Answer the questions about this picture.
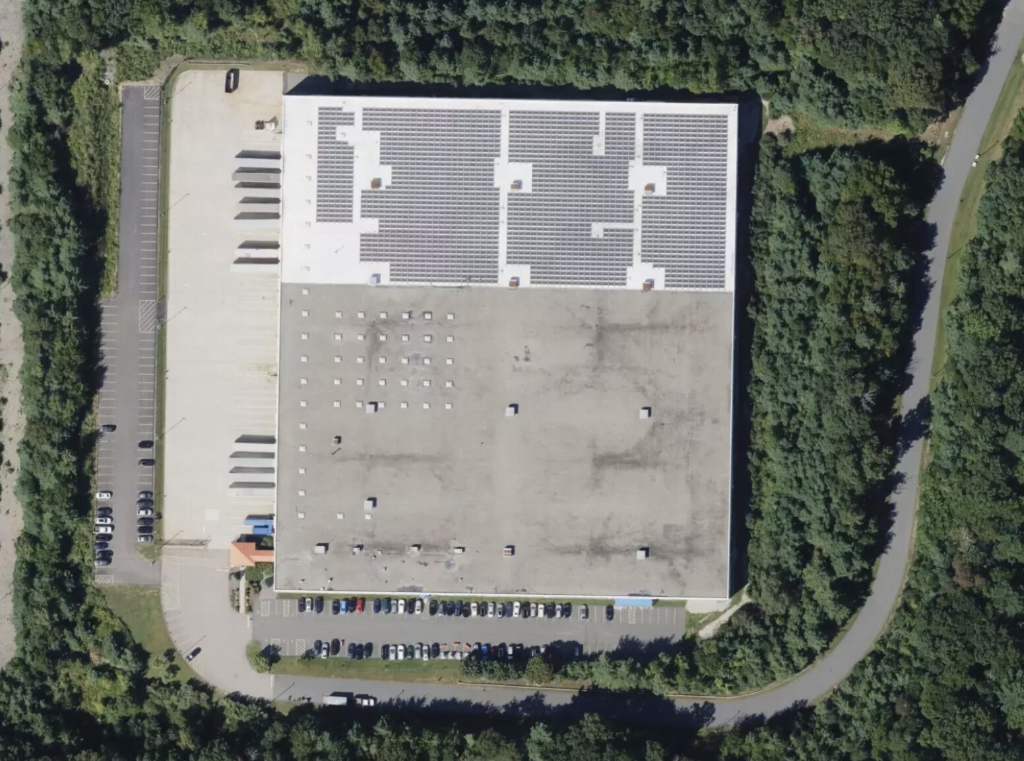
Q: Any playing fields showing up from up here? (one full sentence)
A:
No, there is no playing field in the image.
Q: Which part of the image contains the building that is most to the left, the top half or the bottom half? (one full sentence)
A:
You can find the building that is most to the left in the bottom half.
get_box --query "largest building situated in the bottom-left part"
[229,542,274,568]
